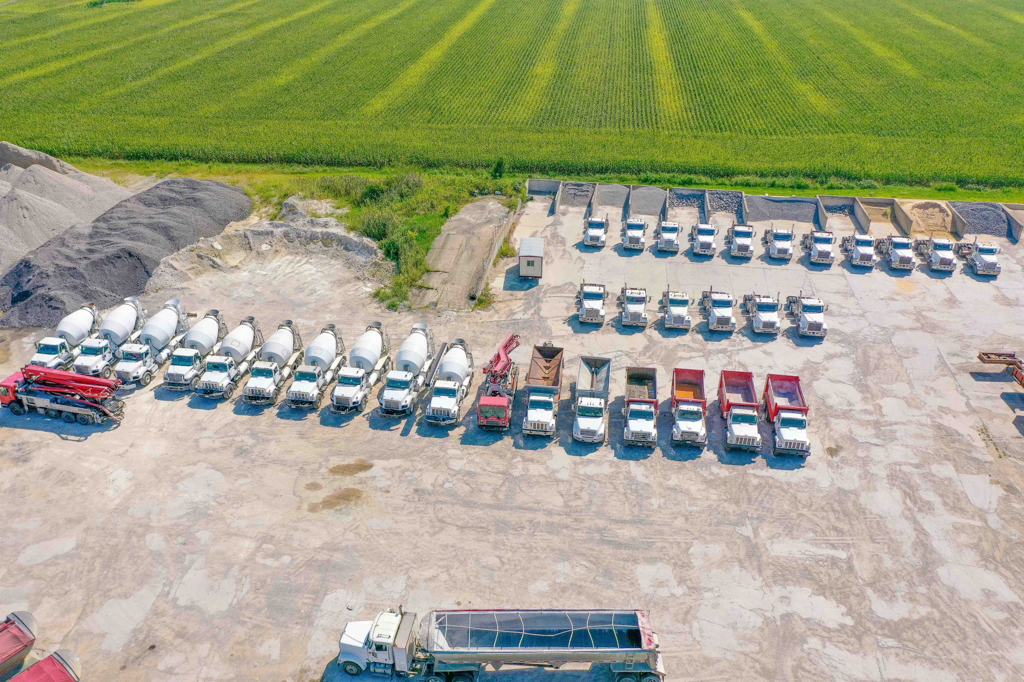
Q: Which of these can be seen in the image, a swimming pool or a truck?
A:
truck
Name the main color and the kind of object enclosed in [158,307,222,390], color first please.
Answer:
white truck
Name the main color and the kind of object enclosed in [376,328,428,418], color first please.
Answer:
white truck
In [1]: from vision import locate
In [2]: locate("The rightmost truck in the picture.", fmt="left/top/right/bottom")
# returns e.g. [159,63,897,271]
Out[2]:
[954,235,1003,275]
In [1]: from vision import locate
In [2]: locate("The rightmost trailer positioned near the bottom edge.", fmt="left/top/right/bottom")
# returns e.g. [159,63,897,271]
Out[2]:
[429,607,664,682]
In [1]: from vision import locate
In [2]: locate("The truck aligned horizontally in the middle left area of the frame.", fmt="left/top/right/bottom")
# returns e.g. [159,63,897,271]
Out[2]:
[0,369,124,429]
